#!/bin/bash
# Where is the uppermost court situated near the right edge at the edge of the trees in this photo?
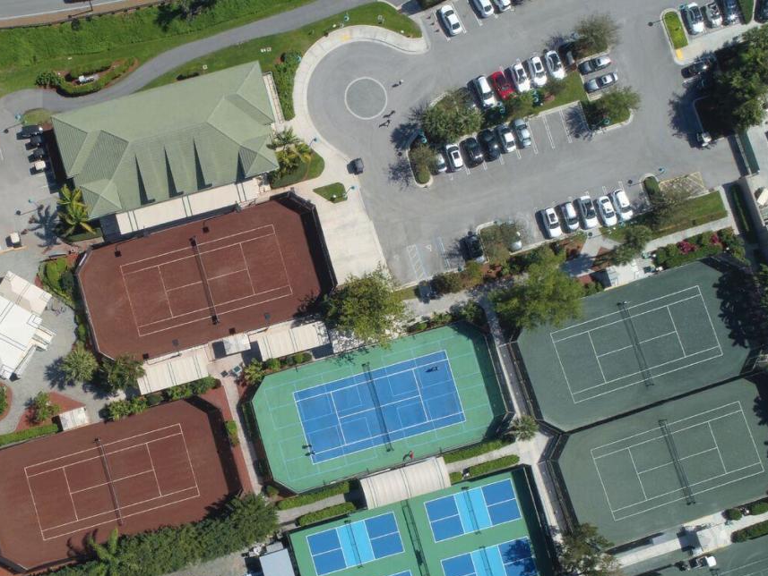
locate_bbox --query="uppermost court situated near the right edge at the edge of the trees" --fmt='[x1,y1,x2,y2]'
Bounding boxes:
[524,262,758,428]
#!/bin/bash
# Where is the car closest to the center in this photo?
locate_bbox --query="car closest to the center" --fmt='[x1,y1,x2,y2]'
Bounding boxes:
[462,231,485,265]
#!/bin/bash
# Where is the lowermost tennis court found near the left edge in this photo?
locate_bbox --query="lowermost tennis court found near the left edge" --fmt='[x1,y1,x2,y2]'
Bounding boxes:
[0,395,241,570]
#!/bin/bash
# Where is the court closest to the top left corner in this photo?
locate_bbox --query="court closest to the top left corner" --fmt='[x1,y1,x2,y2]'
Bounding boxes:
[79,197,333,364]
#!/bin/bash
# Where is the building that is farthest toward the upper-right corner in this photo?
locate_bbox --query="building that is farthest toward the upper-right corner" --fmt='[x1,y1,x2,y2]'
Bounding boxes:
[732,131,761,175]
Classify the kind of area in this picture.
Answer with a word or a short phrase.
sports ground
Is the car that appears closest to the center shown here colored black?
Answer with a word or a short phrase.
Yes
